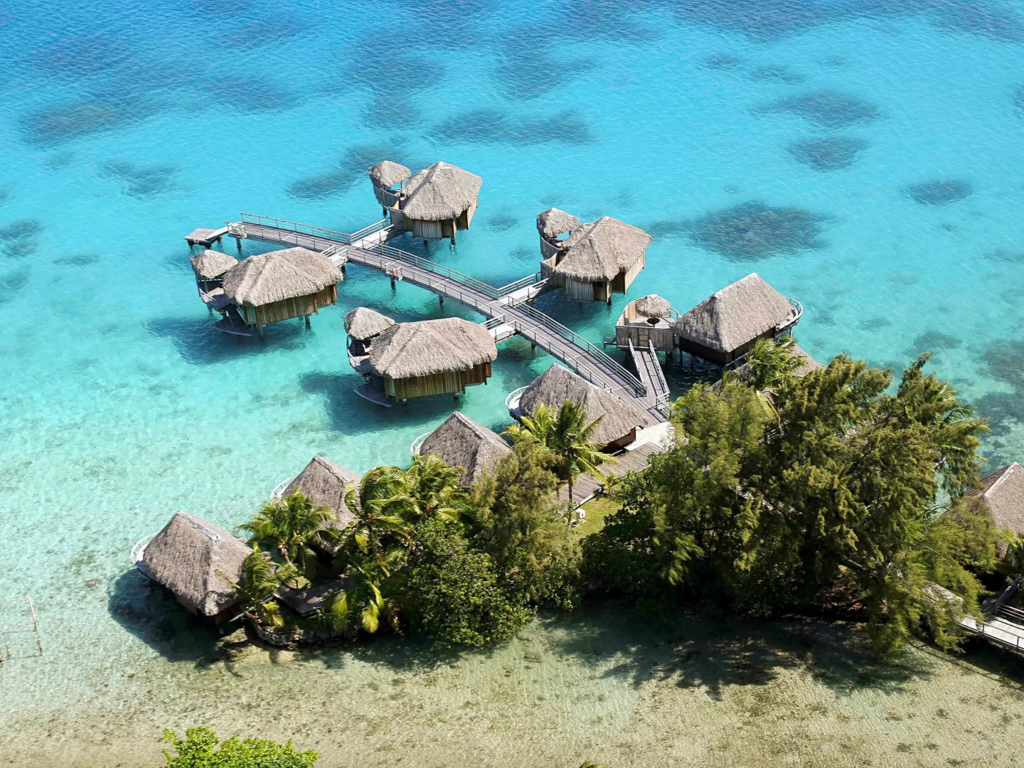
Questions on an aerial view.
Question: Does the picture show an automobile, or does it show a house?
house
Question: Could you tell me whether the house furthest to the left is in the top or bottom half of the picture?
bottom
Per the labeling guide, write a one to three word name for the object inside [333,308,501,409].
house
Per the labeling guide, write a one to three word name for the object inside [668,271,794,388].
house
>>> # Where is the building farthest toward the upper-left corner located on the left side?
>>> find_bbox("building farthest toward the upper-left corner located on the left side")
[187,245,343,337]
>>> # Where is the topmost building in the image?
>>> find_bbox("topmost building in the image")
[365,160,483,260]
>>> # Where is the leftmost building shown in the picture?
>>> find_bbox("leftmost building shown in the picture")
[127,508,253,643]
